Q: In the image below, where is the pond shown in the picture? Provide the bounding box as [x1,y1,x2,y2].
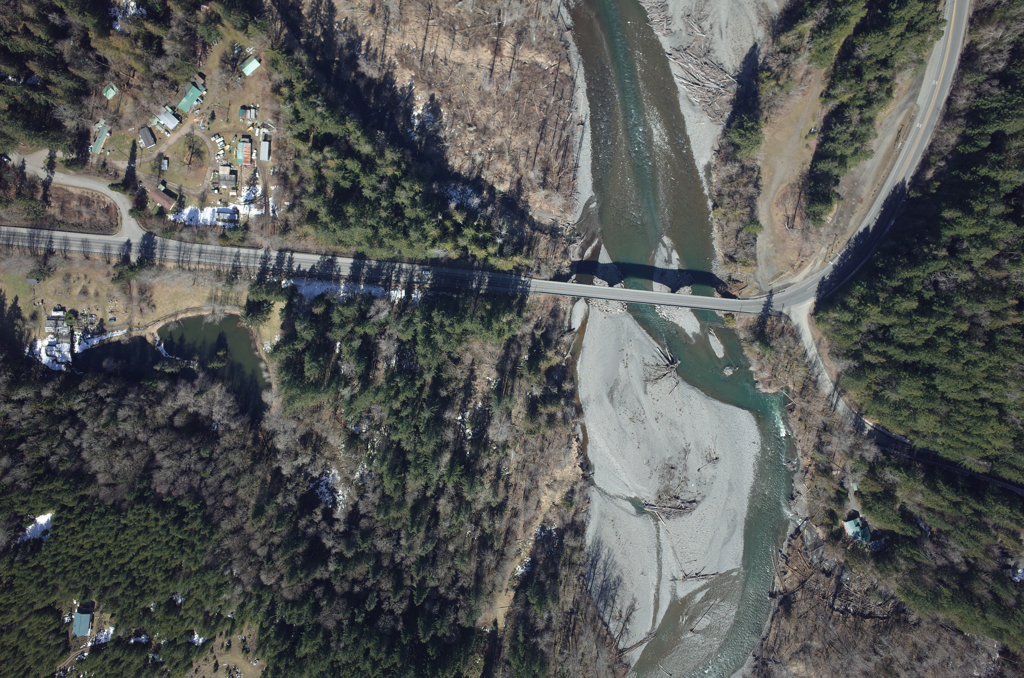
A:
[77,314,269,427]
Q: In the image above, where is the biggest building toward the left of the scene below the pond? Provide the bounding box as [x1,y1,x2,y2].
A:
[73,612,93,635]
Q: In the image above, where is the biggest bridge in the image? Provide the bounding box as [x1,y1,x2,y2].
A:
[552,282,738,311]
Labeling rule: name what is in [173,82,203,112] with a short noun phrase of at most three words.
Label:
house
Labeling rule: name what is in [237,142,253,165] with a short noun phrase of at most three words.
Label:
house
